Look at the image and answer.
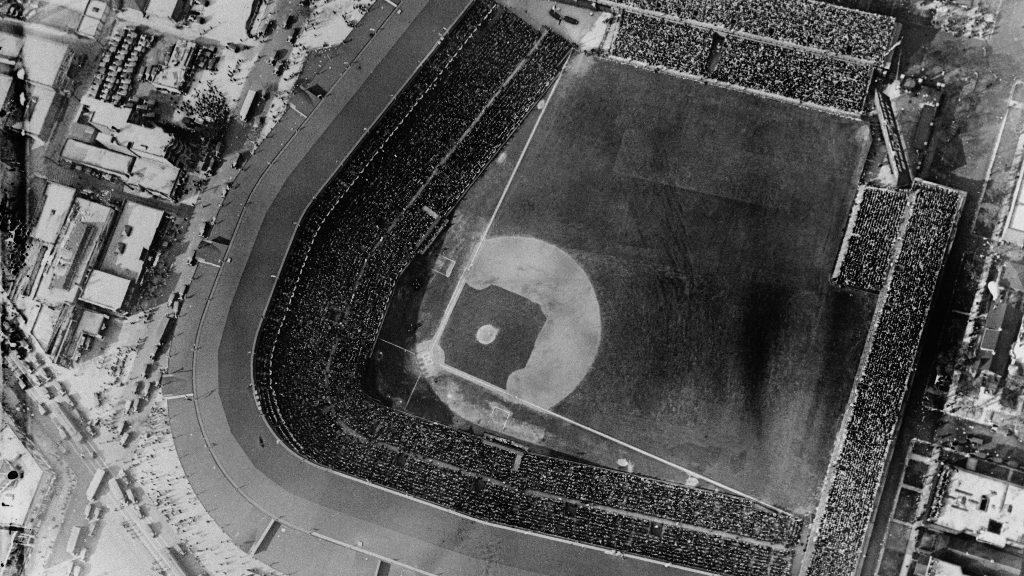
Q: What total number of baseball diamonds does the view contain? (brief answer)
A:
1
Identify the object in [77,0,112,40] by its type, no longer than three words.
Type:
house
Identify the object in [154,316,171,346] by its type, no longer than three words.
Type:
vehicle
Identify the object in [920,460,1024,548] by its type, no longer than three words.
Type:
building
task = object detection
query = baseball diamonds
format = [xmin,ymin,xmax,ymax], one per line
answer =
[362,48,877,520]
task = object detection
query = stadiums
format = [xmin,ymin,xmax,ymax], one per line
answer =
[162,0,802,576]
